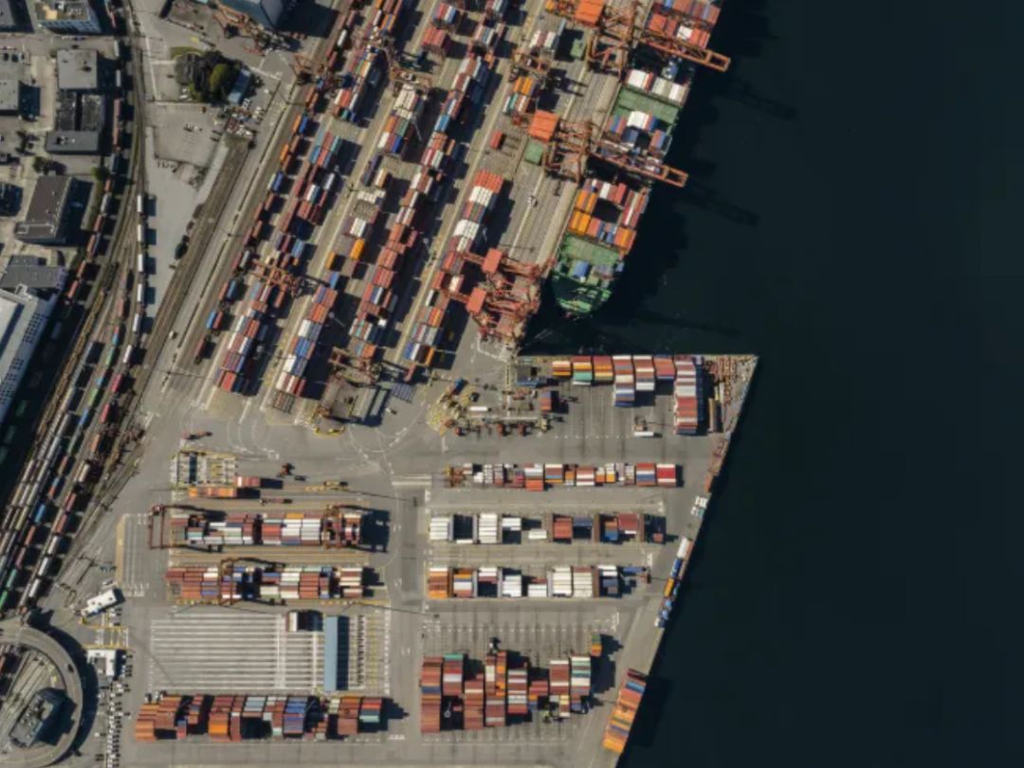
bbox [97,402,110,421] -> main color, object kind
red rail car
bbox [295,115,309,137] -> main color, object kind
blue rail car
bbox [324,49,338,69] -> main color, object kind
red rail car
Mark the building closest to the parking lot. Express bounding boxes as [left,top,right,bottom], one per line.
[227,68,251,104]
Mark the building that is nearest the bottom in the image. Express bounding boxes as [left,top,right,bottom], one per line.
[9,688,66,746]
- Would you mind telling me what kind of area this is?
port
